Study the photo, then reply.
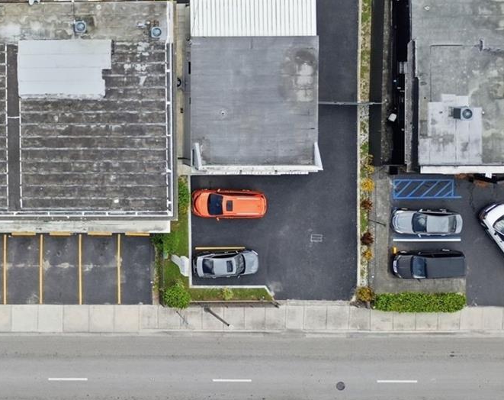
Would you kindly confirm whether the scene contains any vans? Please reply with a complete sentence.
Yes, you can see a van in this photo.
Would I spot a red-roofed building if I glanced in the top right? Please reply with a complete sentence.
No, in the top right there is no red-roofed building.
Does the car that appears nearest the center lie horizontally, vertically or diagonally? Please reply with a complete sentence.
What the image shows is the car that appears nearest the center lying horizontally.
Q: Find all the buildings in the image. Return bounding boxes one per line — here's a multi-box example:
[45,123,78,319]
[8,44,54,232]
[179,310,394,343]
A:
[0,1,178,233]
[398,0,504,173]
[183,0,324,173]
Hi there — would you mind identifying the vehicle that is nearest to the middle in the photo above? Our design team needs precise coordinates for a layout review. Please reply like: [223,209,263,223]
[191,189,268,221]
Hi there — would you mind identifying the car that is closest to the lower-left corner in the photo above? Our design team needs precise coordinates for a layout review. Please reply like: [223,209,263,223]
[191,247,257,279]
